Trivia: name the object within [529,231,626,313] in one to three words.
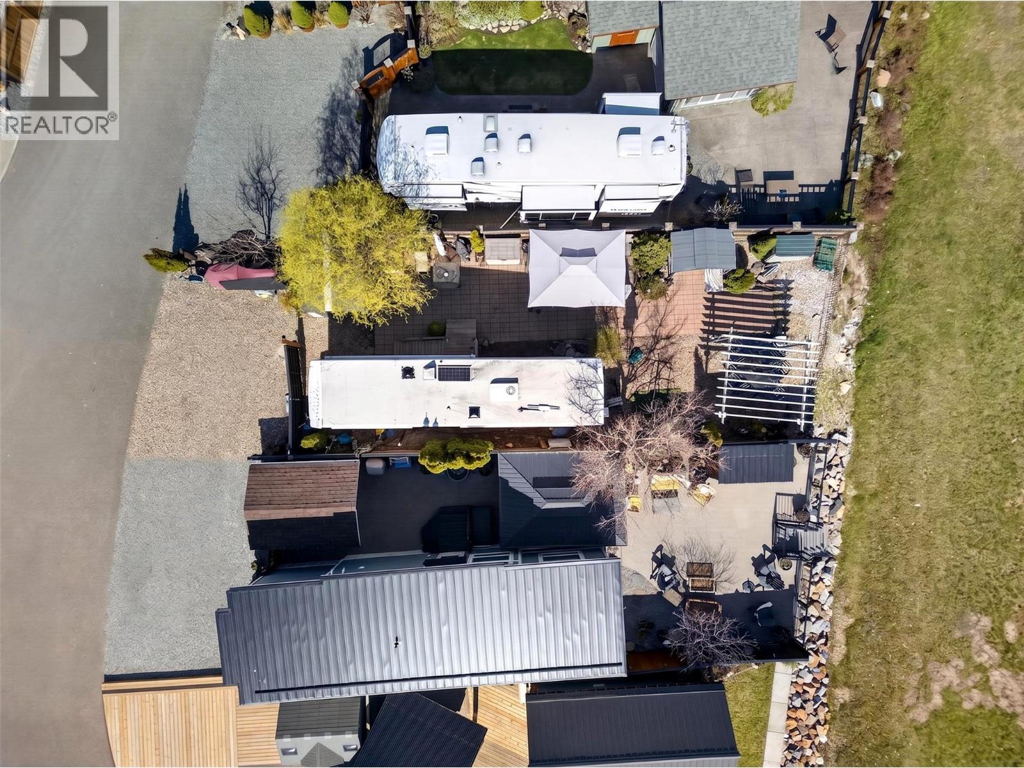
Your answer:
gazebo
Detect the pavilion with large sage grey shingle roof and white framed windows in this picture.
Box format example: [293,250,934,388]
[648,0,797,115]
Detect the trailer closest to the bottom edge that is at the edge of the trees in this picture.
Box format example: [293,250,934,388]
[310,354,604,427]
